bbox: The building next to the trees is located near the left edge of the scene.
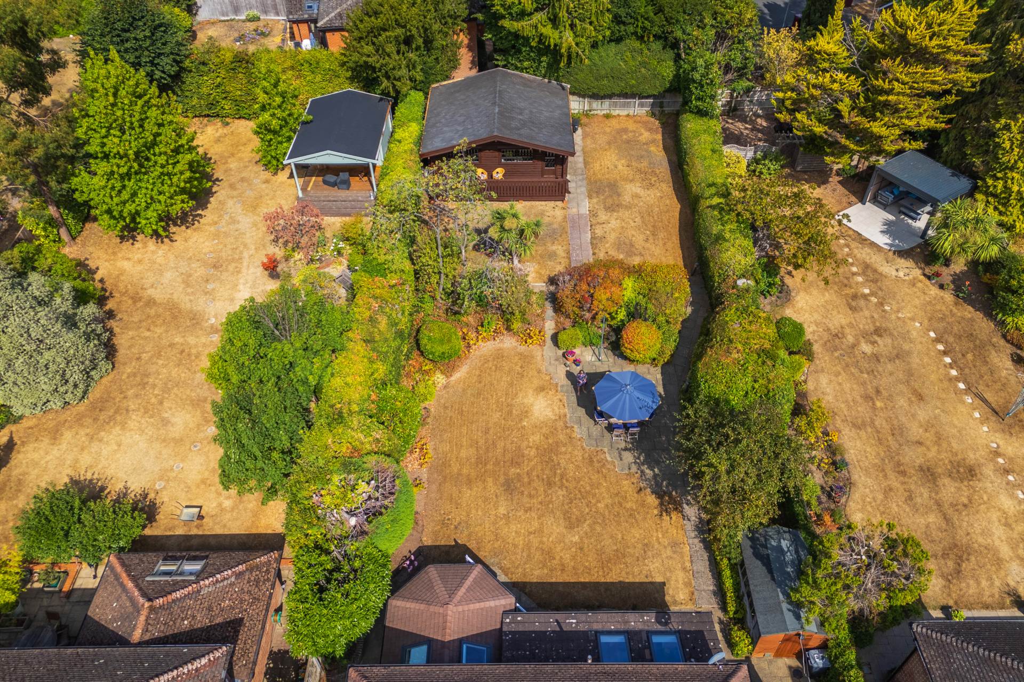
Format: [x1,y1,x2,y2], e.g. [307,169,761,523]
[0,548,285,682]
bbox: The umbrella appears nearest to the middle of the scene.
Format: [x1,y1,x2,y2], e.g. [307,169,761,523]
[592,370,662,429]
